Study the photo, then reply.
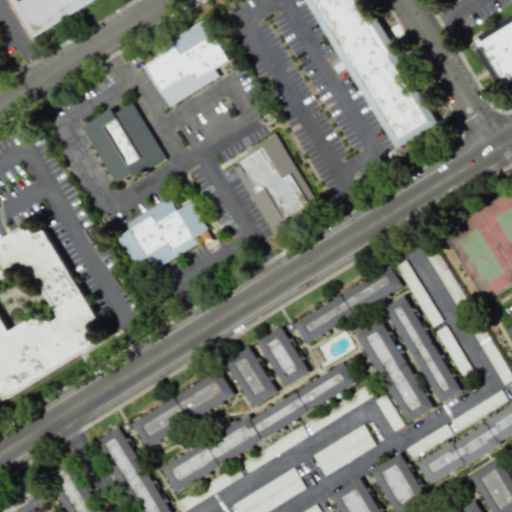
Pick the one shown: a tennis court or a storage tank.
tennis court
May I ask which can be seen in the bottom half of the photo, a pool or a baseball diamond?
pool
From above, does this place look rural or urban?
urban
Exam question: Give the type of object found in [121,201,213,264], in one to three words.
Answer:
building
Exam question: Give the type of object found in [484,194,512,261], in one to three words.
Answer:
tennis court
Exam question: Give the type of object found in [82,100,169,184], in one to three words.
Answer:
building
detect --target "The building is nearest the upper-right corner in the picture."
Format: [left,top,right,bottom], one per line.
[478,24,512,80]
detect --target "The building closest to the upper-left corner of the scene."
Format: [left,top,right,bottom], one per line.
[10,0,96,38]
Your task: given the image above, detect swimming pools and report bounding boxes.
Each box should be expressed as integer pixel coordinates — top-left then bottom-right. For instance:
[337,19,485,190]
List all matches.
[320,331,356,368]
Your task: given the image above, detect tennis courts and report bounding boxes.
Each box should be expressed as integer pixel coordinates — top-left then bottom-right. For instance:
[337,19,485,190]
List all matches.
[451,214,512,297]
[484,194,512,261]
